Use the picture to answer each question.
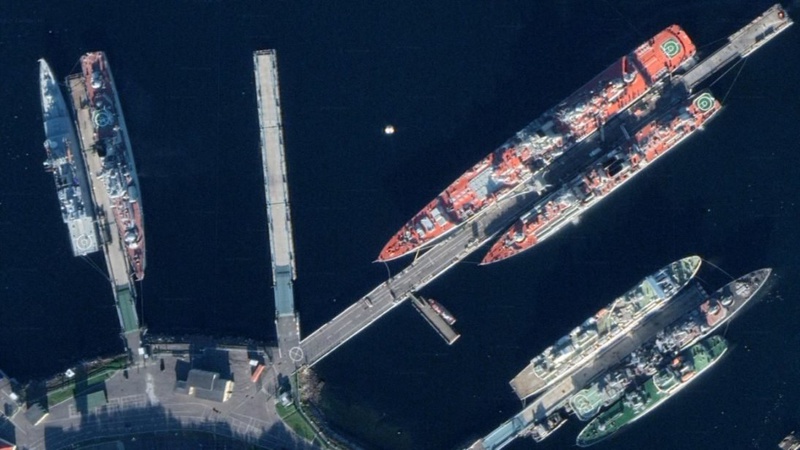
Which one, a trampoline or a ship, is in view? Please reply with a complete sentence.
The image shows a ship.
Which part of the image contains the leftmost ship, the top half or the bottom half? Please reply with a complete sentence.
The leftmost ship is in the top half of the image.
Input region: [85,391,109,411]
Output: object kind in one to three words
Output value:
shed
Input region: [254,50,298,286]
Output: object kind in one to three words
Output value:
pier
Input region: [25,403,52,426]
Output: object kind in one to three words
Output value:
building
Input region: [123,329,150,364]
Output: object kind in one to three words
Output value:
pier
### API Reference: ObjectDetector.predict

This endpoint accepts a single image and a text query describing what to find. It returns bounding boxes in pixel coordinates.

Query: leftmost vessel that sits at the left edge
[38,58,101,256]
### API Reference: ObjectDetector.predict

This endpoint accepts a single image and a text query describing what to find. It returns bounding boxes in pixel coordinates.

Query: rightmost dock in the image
[728,4,795,60]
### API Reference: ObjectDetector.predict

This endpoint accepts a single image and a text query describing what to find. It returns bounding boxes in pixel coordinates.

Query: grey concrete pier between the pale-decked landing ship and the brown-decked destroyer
[512,282,712,435]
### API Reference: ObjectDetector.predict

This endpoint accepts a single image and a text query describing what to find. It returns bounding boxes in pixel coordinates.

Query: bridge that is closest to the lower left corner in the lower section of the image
[113,286,141,334]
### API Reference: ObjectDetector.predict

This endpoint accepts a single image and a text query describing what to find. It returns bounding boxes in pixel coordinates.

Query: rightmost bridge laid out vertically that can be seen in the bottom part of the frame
[274,265,294,316]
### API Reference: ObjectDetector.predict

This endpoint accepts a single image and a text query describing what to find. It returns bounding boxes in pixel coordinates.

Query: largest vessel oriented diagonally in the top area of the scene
[371,27,697,264]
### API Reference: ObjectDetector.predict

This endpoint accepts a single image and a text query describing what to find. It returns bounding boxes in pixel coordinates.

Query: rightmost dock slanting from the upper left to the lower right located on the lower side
[409,293,462,346]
